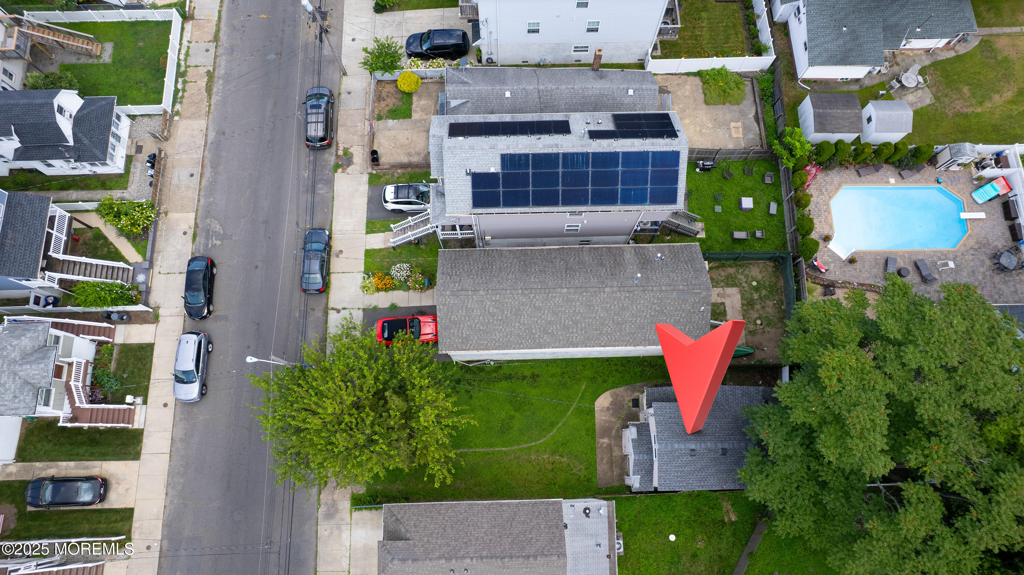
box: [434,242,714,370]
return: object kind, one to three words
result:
house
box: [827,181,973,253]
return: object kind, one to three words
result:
swimming pool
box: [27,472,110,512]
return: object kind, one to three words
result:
car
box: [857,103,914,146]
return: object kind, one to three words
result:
shed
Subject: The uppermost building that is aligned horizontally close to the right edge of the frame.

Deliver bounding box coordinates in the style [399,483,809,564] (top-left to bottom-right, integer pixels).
[789,0,983,94]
